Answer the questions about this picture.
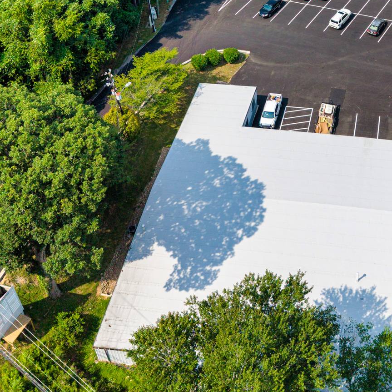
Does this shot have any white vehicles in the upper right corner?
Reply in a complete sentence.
Yes, a white vehicle is visible in the upper right corner.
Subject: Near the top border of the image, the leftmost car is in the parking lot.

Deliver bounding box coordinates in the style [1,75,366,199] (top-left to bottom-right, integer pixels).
[257,0,282,19]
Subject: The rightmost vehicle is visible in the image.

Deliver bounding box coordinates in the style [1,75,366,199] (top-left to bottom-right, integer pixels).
[365,18,390,39]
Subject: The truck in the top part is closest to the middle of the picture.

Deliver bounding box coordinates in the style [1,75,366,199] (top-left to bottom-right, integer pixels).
[259,92,283,128]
